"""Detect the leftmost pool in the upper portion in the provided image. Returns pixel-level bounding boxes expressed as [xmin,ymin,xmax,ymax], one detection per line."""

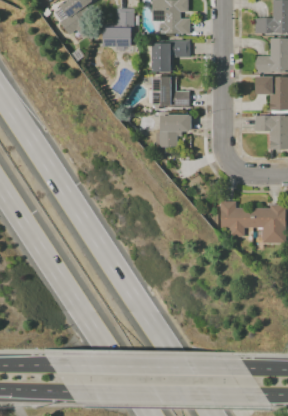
[108,57,136,99]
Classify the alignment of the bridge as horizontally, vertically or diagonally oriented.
horizontally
